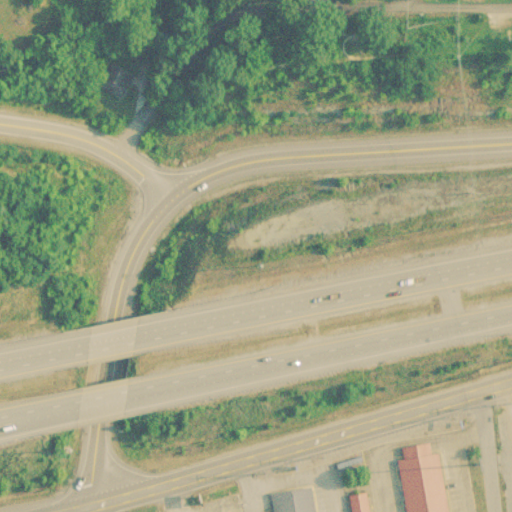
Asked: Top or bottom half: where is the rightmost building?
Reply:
bottom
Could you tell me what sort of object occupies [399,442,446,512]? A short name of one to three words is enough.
building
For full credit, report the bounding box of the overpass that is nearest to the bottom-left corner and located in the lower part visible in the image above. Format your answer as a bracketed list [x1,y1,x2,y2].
[76,378,132,432]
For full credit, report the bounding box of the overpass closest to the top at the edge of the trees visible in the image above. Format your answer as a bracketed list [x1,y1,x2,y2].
[85,316,140,368]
